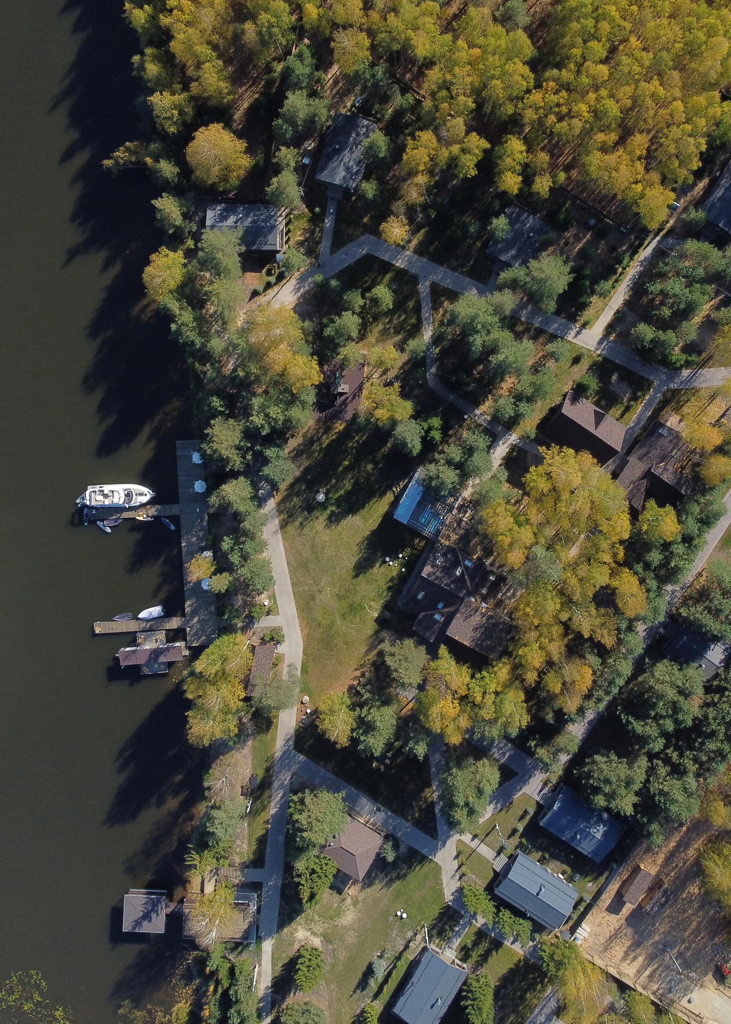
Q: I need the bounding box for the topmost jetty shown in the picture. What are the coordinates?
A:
[88,504,180,520]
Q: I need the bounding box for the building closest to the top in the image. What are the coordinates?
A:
[314,113,377,199]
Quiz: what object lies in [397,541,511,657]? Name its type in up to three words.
building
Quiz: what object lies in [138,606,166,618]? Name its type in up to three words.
boat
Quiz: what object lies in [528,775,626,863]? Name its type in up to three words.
building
